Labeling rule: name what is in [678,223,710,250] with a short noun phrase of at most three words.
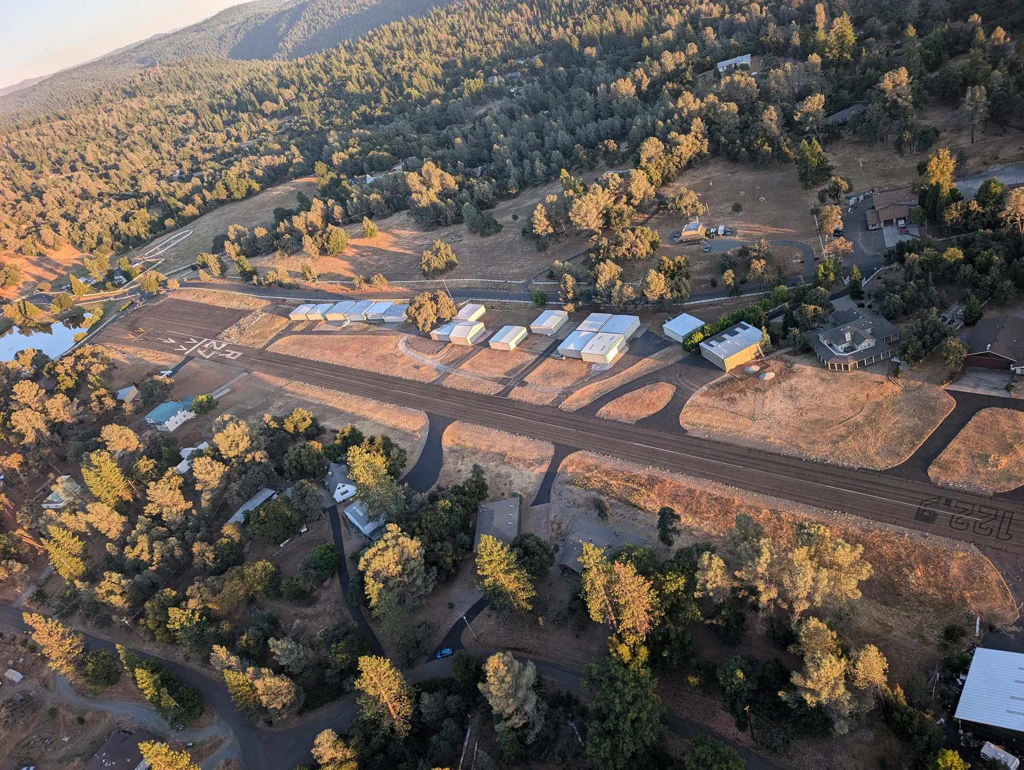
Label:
house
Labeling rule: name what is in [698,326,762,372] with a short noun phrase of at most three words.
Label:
hangar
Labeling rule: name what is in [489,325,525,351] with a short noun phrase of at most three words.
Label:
hangar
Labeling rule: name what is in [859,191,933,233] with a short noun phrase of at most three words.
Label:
building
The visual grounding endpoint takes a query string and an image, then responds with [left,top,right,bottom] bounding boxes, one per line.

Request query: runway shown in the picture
[95,298,1024,564]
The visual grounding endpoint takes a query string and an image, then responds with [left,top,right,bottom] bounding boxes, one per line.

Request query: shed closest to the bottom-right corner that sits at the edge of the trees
[952,644,1024,754]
